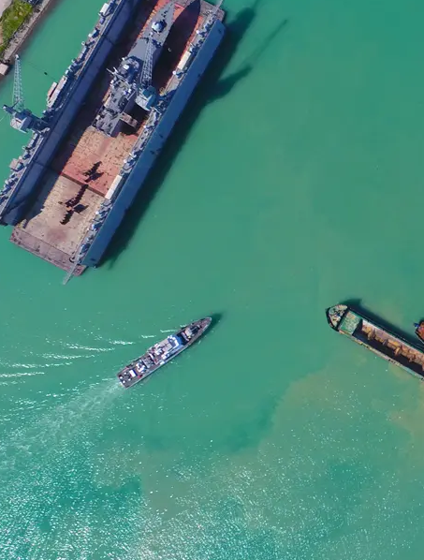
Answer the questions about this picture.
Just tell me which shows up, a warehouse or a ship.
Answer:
ship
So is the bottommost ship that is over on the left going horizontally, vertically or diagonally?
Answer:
diagonally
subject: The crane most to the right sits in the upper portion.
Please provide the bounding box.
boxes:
[135,32,166,117]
